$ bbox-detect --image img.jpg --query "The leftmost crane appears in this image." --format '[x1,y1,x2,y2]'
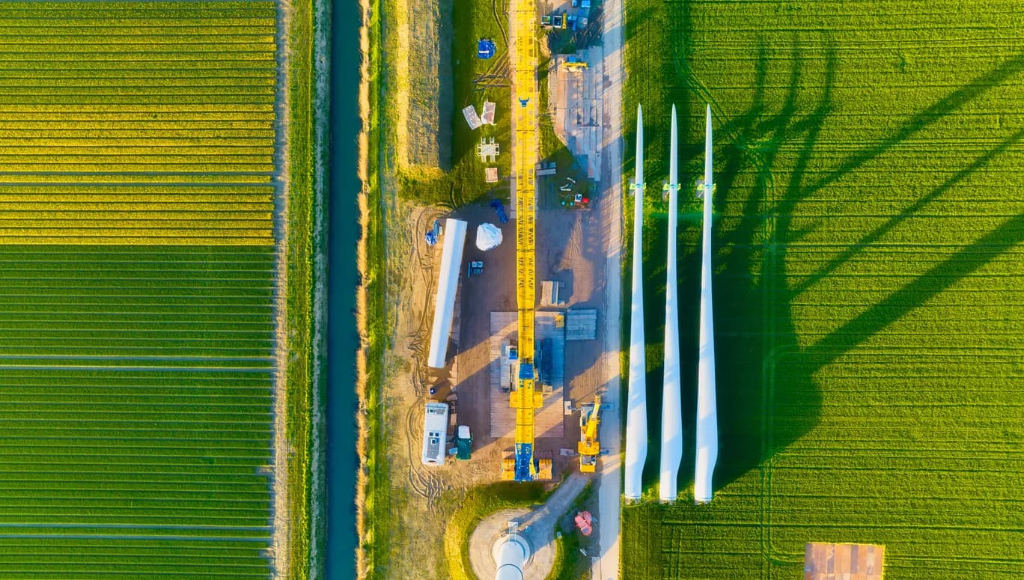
[501,0,553,484]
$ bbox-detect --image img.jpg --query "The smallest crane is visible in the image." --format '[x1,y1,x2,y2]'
[560,392,616,473]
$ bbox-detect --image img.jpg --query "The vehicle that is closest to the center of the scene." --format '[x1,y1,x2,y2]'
[454,427,472,461]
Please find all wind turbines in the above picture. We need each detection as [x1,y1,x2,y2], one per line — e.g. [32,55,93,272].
[494,521,531,580]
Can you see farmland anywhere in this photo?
Yes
